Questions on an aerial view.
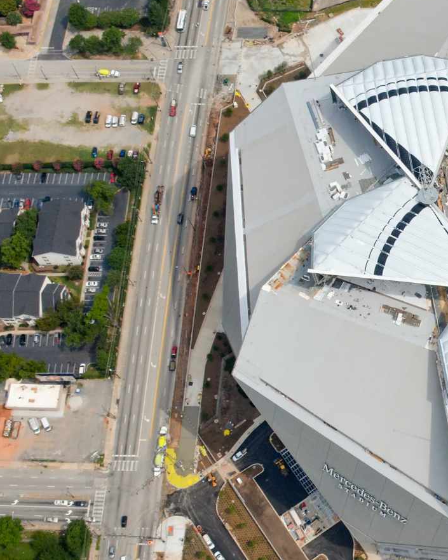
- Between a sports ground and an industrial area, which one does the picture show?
sports ground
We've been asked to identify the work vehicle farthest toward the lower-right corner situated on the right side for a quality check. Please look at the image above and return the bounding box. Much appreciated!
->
[274,452,287,471]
